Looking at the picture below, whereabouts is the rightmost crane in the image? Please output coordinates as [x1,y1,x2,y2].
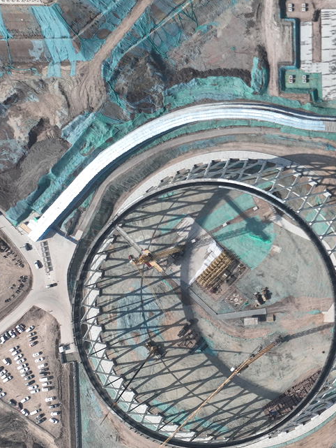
[161,339,270,448]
